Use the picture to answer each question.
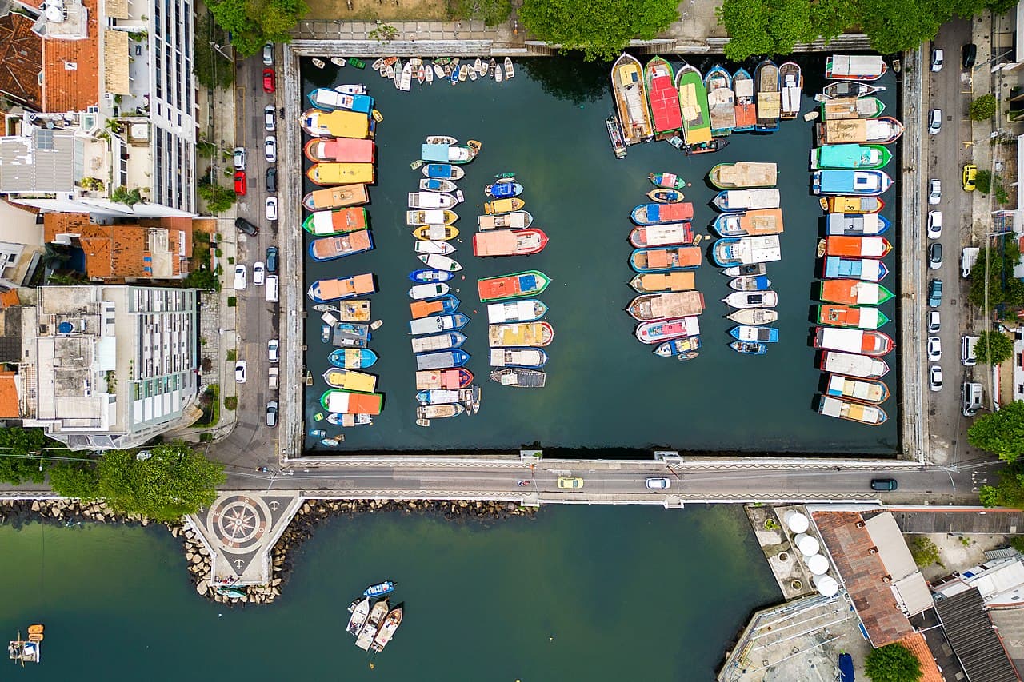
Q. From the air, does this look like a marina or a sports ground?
marina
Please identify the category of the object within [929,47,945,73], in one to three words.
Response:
car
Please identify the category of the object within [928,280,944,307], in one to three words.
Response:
vehicle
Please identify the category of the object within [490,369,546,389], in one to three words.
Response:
boat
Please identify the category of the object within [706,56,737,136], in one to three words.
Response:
boat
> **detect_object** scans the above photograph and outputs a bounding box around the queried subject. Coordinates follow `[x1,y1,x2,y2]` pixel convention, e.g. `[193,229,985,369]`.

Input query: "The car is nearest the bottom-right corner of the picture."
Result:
[869,478,898,492]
